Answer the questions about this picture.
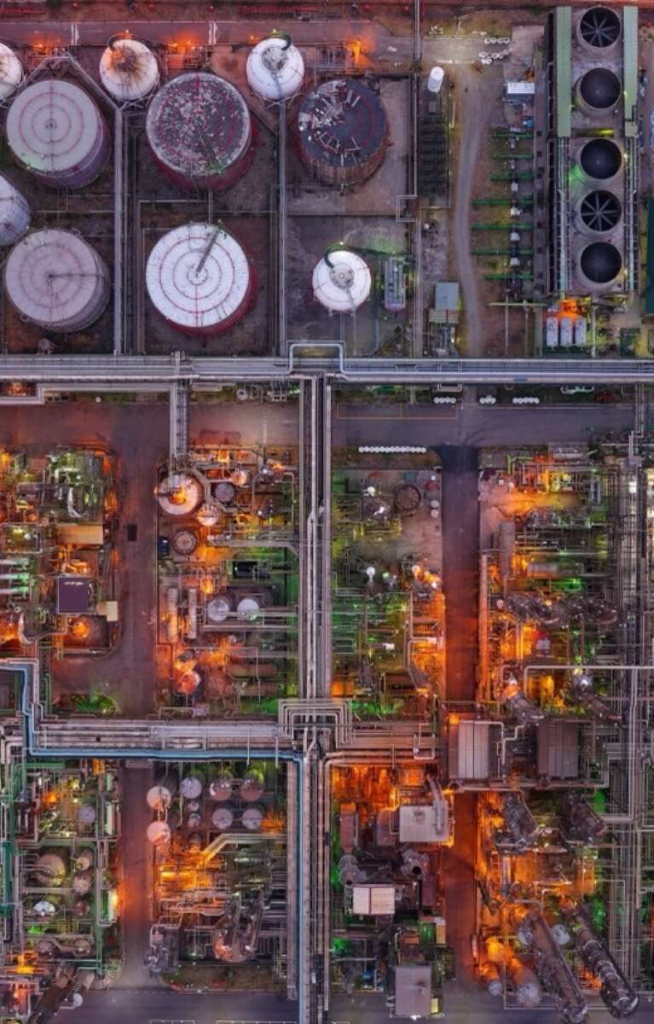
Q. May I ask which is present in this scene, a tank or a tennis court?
tank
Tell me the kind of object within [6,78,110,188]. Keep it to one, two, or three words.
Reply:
storage tank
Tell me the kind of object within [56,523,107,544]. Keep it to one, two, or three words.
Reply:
building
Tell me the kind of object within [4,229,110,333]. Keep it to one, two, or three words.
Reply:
storage tank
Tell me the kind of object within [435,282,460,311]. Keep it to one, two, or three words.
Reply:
building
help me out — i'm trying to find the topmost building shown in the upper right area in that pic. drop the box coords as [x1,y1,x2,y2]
[506,82,535,97]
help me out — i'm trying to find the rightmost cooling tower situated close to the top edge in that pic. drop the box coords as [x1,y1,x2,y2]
[544,5,640,305]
